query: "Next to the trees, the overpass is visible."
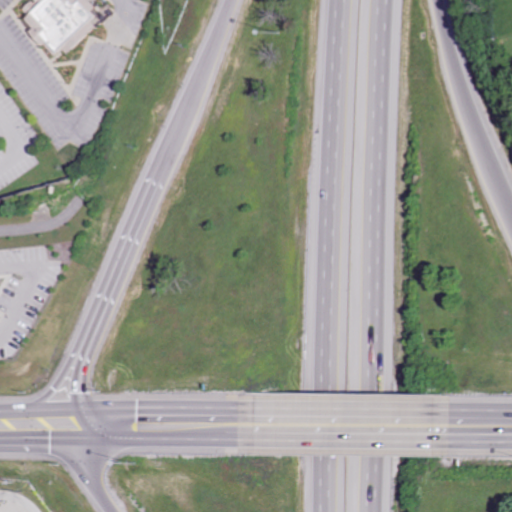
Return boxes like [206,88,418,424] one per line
[238,392,448,458]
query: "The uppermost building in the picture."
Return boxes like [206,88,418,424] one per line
[22,0,104,57]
